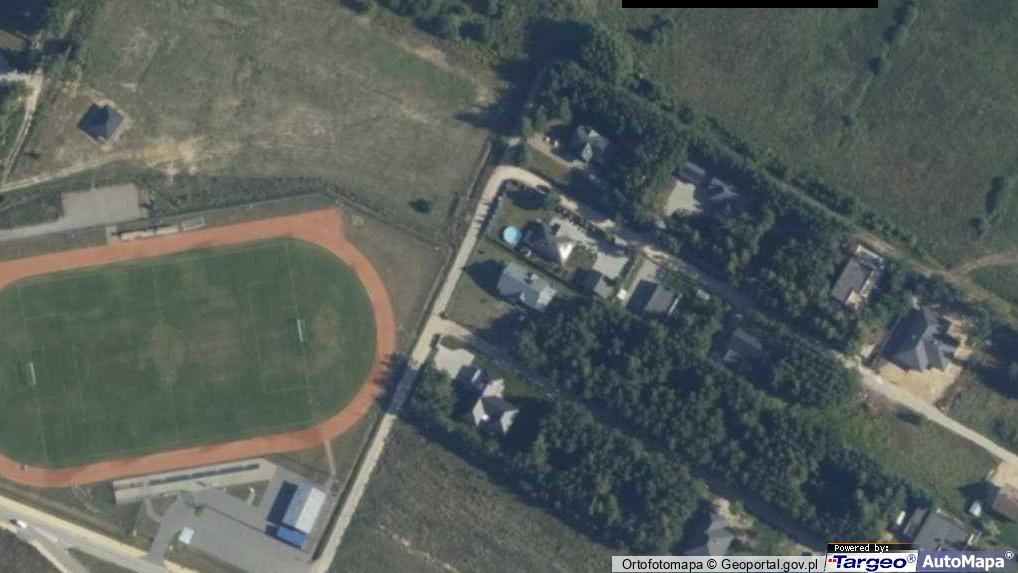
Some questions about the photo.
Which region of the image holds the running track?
left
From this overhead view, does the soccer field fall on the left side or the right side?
left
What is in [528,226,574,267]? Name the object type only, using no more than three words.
building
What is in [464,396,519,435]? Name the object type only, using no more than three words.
house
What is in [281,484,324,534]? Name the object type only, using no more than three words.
building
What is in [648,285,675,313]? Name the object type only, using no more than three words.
house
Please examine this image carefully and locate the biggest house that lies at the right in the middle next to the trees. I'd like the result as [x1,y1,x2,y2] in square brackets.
[879,308,956,372]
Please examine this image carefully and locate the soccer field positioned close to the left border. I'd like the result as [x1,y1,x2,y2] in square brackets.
[0,236,376,469]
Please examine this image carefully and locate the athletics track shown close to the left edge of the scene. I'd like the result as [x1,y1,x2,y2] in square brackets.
[0,208,393,485]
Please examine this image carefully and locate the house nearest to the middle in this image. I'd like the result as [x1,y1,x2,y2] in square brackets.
[498,265,556,309]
